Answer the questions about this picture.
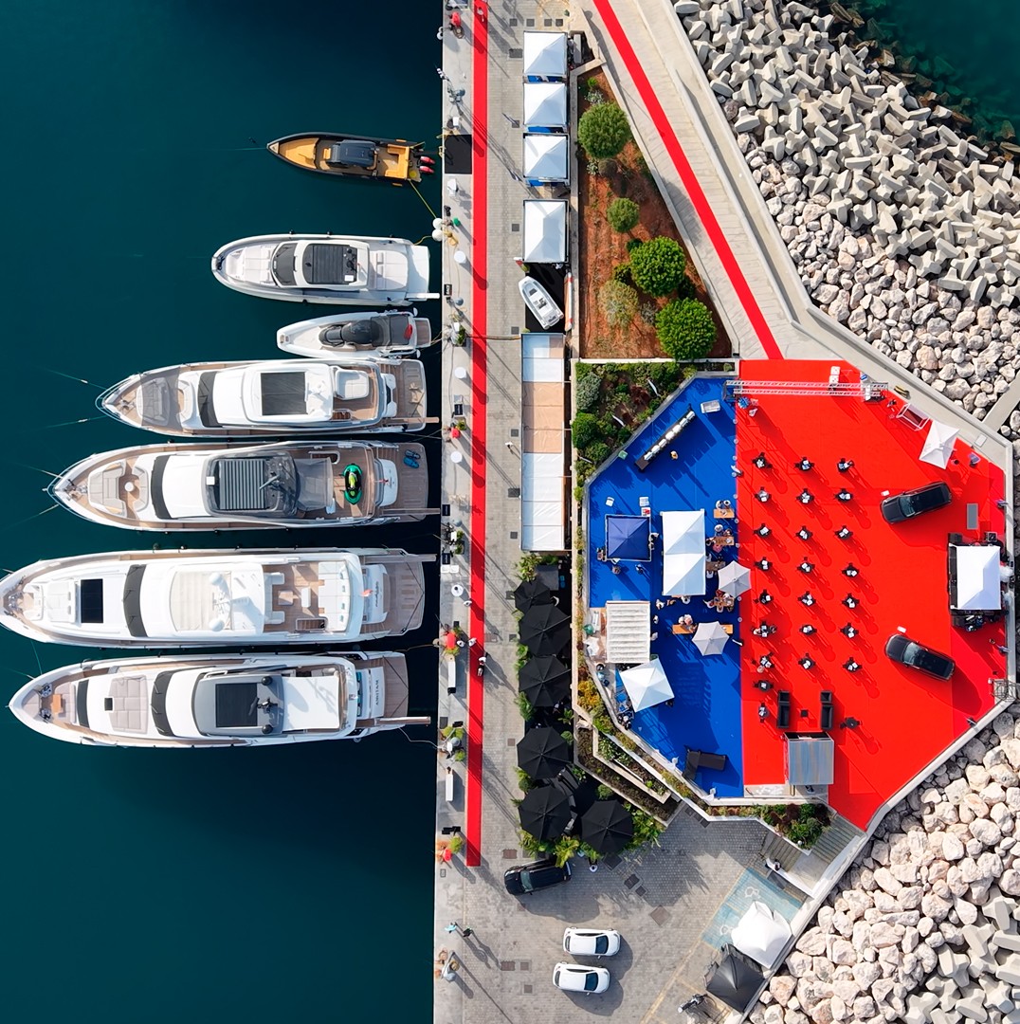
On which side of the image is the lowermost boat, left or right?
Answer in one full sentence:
The lowermost boat appears in the left half of the scene.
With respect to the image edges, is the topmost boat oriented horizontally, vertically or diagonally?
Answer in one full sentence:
The topmost boat has been laid out horizontally relative to the frame.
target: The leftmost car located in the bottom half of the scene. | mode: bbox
[504,857,574,895]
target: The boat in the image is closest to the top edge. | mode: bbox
[267,132,435,186]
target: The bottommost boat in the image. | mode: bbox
[9,646,430,753]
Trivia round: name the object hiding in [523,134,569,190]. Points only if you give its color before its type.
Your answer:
white tent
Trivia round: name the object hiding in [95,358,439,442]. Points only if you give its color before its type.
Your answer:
white boat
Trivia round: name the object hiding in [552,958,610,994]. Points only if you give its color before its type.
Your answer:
white car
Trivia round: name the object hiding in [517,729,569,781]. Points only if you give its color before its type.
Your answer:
black umbrella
